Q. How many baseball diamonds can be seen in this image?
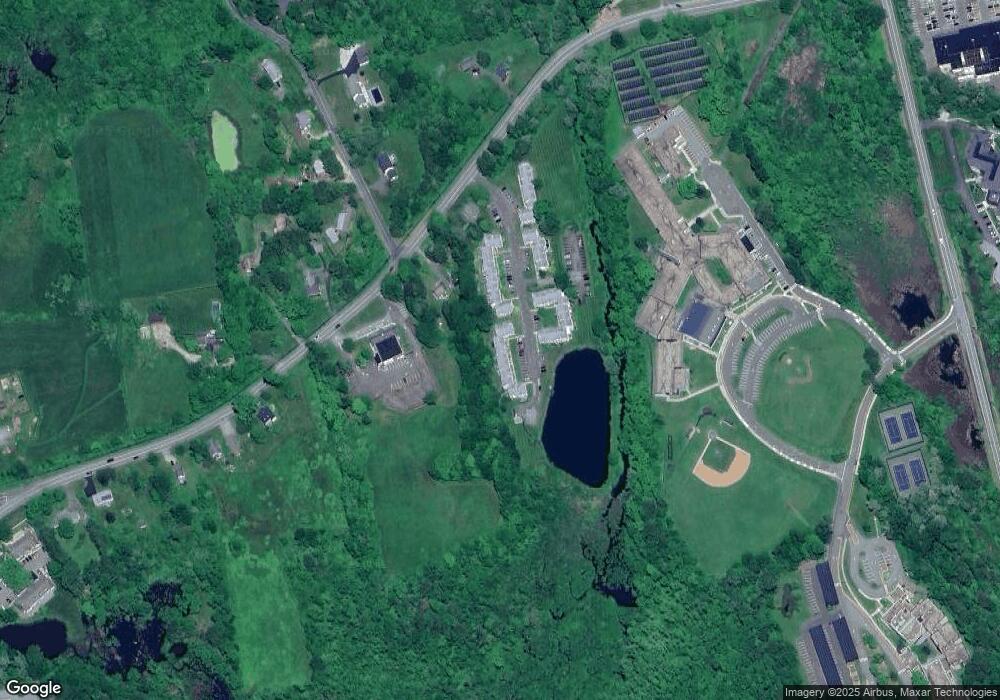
two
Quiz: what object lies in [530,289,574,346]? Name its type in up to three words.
building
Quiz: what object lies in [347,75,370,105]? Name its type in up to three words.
house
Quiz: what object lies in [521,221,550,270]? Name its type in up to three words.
building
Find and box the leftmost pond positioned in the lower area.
[0,617,66,657]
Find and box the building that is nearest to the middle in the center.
[492,321,528,402]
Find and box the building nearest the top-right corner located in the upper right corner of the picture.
[933,22,1000,82]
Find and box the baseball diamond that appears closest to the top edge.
[754,320,872,459]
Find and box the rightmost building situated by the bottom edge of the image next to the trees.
[882,585,969,700]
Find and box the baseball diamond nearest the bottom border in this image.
[655,391,841,576]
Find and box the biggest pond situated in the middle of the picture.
[542,349,610,488]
